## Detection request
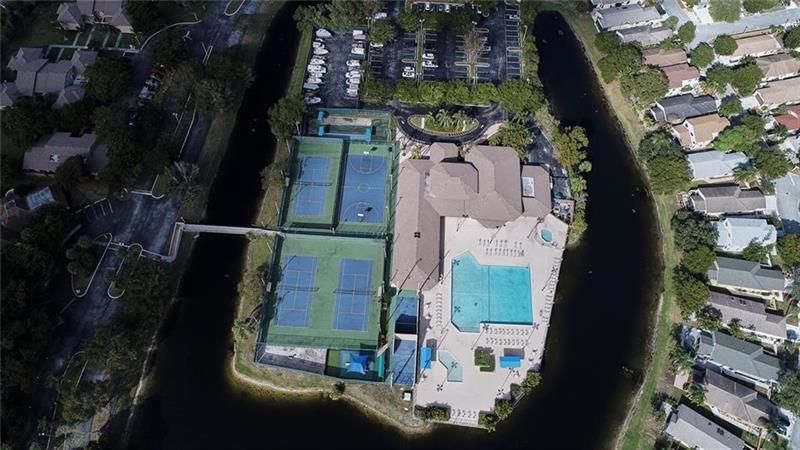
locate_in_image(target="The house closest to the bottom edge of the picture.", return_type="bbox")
[666,402,755,450]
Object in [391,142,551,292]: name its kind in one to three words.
building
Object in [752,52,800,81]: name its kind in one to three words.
house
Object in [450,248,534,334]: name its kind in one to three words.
swimming pool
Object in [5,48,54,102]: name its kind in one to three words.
house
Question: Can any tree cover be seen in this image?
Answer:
Yes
